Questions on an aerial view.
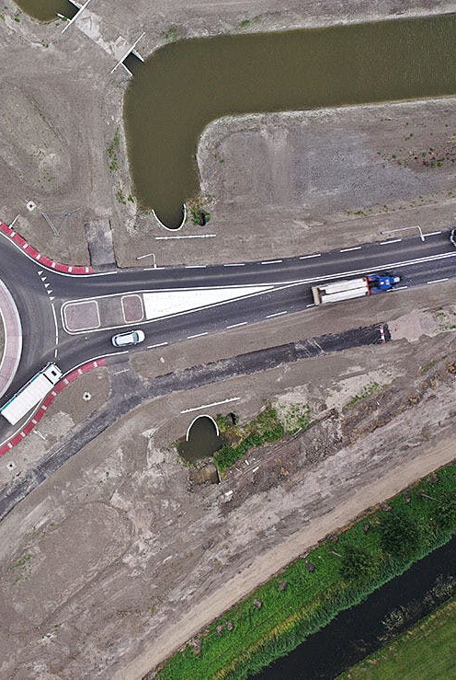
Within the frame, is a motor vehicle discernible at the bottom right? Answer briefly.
No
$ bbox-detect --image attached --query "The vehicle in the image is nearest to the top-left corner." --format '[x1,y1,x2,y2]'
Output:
[111,328,143,346]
